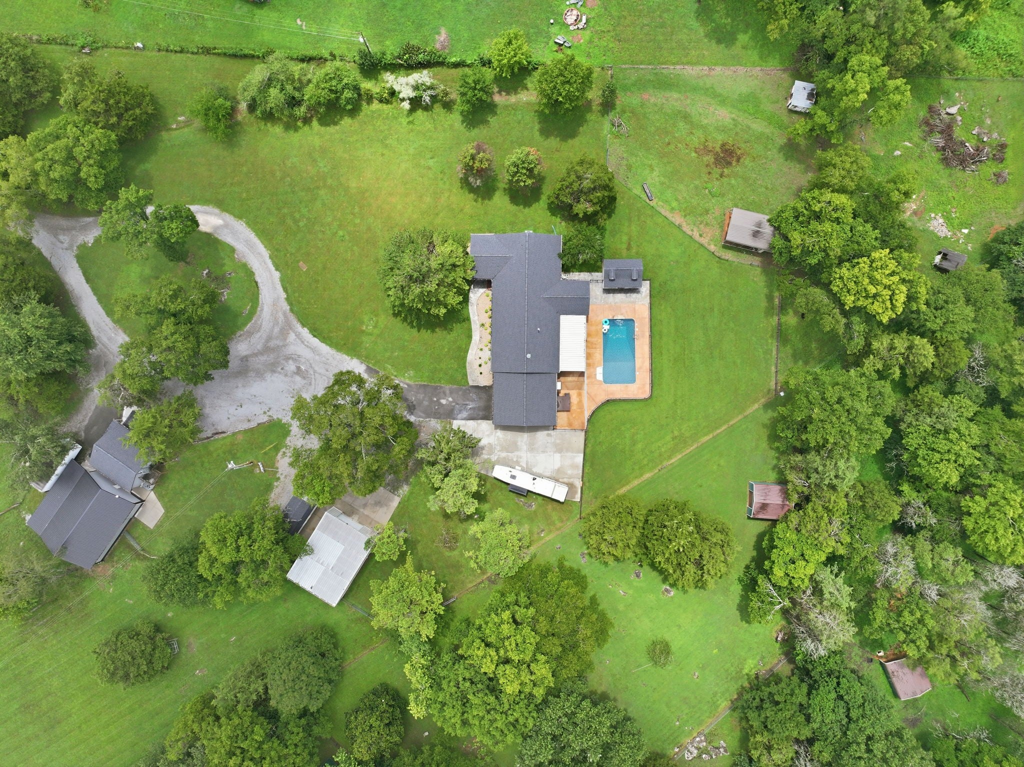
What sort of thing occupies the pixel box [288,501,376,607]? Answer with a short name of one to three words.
building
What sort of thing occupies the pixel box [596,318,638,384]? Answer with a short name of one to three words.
swimming pool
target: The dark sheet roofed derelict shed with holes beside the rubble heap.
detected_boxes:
[930,248,967,274]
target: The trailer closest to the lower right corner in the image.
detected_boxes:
[492,463,568,502]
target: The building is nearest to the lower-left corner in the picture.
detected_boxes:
[27,459,143,571]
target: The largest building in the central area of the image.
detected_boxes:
[471,230,590,426]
